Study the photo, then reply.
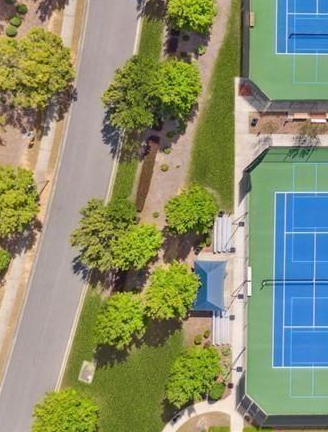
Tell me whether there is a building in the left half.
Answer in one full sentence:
No, I see no building in the left half.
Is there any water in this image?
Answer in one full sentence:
No, there is no water in the image.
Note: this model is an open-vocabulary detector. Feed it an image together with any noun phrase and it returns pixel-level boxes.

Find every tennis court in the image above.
[273,164,328,397]
[276,0,328,83]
